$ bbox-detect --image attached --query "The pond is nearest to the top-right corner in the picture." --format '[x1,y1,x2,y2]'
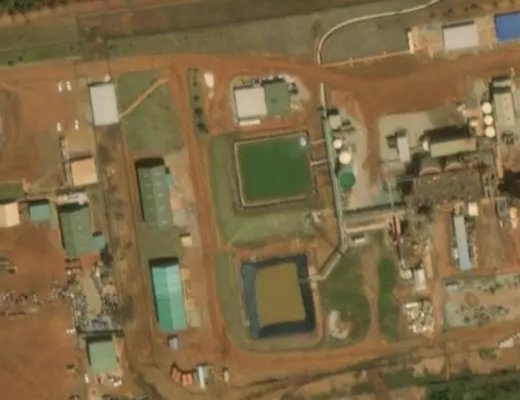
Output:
[232,130,317,211]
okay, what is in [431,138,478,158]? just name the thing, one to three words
house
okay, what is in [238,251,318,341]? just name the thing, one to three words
pond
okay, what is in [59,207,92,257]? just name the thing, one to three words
building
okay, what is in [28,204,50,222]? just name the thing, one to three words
shed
